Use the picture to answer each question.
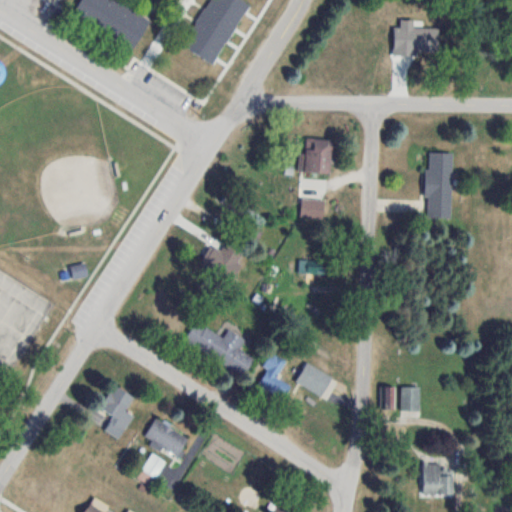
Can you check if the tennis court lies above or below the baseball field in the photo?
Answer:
below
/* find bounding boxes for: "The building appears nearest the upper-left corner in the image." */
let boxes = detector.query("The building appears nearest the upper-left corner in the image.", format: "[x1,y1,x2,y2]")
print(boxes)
[76,0,148,48]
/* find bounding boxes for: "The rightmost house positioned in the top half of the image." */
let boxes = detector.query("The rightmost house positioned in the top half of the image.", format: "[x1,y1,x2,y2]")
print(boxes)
[424,152,454,219]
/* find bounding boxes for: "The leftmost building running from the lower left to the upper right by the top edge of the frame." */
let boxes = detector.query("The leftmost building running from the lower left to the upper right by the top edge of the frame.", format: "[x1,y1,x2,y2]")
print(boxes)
[188,0,250,63]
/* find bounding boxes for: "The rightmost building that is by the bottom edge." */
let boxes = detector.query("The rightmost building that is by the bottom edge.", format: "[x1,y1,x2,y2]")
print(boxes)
[420,464,456,498]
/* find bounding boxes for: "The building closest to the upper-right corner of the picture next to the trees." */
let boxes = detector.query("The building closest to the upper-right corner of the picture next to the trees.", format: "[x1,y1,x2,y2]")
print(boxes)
[393,20,441,55]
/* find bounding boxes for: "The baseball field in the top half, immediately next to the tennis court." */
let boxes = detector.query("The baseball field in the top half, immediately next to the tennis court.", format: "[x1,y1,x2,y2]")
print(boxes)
[0,86,121,247]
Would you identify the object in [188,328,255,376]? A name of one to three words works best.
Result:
house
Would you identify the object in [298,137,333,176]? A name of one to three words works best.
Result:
house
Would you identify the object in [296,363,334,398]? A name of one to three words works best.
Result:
building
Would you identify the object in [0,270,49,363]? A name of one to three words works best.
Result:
tennis court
